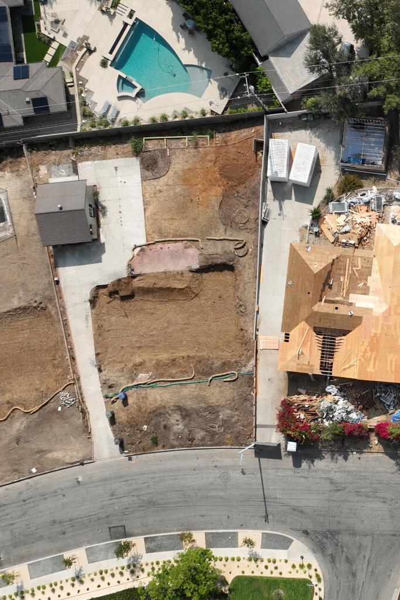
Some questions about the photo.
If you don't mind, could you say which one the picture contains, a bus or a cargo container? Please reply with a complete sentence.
Looking from above, you can make out a cargo container.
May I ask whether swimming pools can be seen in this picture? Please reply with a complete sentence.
Yes, a swimming pool is visible in the scene.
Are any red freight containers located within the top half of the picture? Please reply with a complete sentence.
No, there's no red freight container to be seen within the top half of the picture.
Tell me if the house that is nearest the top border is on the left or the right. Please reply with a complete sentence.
It is on the right.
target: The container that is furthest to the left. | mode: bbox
[267,138,293,185]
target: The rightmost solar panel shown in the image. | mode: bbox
[31,97,49,113]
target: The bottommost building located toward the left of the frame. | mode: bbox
[34,180,102,248]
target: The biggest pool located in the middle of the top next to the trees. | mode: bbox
[108,16,213,105]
